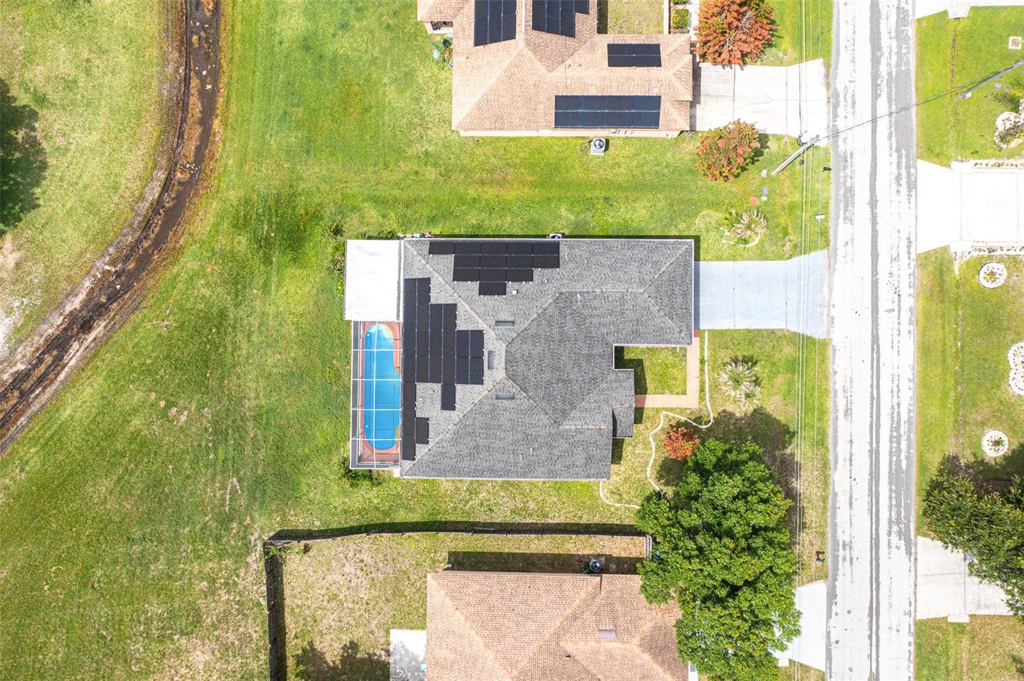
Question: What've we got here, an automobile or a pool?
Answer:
pool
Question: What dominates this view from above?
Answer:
grass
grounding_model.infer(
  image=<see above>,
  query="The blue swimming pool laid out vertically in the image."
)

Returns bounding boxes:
[360,321,401,454]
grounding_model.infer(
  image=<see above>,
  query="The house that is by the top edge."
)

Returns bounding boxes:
[417,0,693,138]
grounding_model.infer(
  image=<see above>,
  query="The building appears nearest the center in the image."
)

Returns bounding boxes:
[343,238,695,481]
